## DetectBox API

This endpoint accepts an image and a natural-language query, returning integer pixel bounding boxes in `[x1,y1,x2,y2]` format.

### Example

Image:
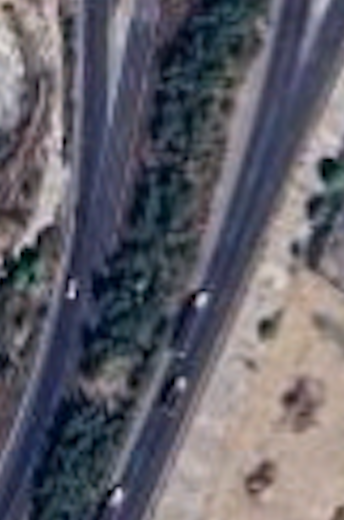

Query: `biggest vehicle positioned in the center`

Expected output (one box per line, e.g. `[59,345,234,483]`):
[181,294,204,331]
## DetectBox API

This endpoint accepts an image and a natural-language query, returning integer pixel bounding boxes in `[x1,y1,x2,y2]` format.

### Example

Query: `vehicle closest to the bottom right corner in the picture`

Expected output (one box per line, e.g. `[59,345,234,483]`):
[166,377,184,402]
